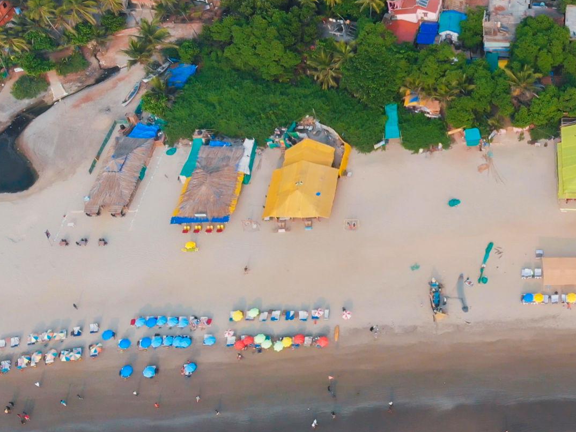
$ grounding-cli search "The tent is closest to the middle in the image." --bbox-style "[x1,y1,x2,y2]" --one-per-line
[263,138,341,224]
